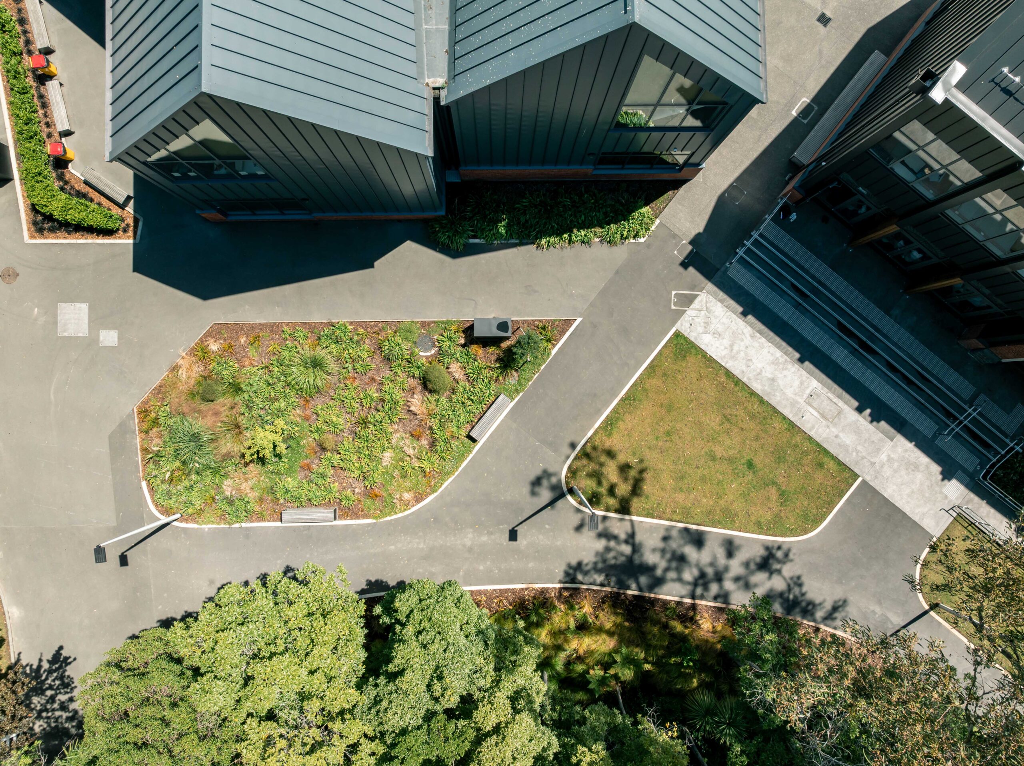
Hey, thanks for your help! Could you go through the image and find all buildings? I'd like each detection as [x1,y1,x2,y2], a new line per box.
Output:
[444,0,763,180]
[782,0,1024,347]
[103,0,448,221]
